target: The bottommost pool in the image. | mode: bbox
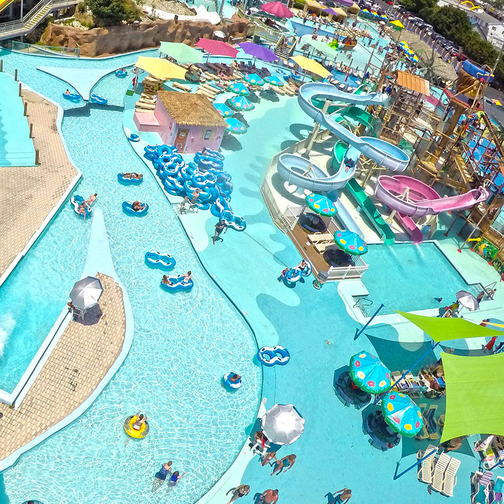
[352,243,490,317]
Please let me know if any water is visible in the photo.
Yes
